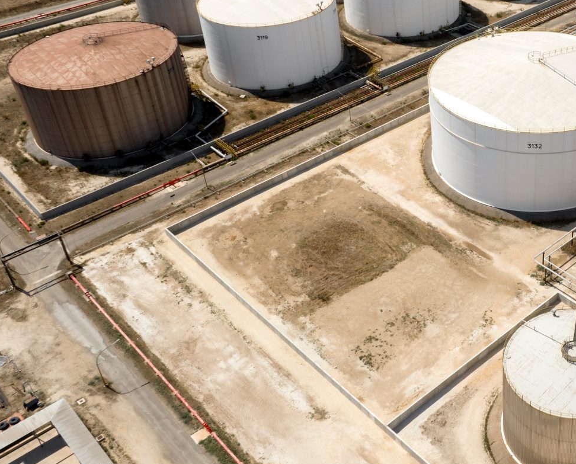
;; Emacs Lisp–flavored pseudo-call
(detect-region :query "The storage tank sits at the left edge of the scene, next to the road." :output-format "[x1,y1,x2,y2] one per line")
[7,18,208,168]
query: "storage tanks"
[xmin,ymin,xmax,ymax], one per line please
[485,302,576,464]
[132,0,203,39]
[7,18,208,168]
[196,0,354,95]
[338,0,469,41]
[423,26,576,218]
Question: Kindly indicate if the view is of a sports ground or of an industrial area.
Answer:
industrial area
